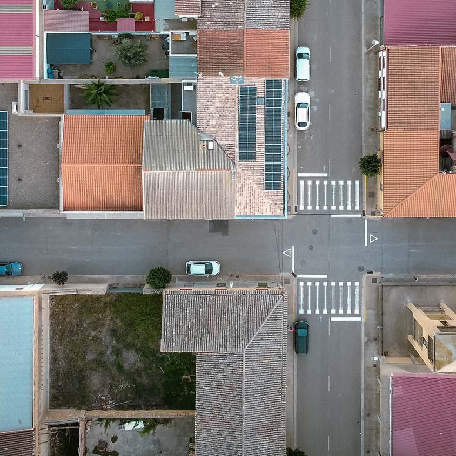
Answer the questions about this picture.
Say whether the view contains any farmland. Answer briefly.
No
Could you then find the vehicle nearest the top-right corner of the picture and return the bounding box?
[294,45,311,81]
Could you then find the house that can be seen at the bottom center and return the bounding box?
[161,282,287,456]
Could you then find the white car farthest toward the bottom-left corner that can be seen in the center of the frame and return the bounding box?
[186,260,220,277]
